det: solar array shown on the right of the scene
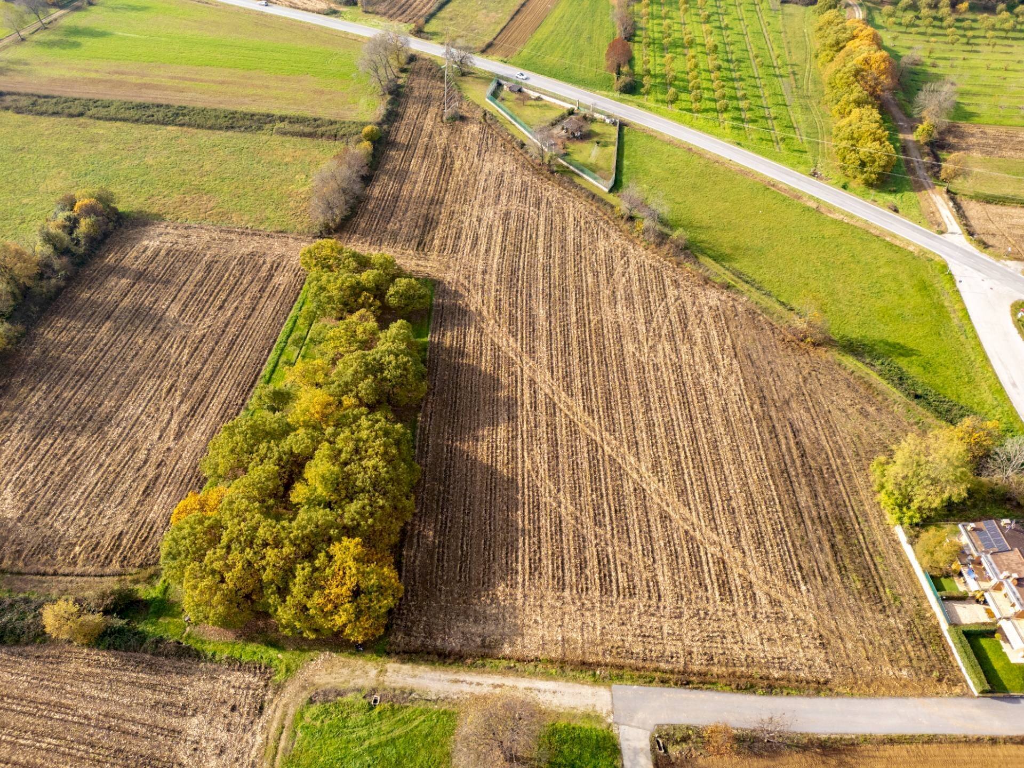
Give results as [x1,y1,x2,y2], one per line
[978,520,1008,550]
